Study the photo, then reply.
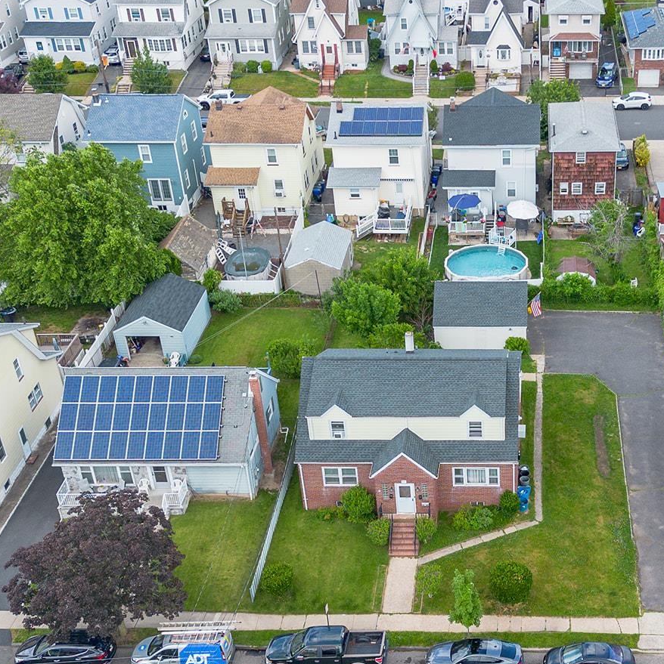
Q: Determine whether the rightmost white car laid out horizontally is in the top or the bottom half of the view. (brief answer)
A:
top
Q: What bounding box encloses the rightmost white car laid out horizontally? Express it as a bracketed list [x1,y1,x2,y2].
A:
[610,90,653,110]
